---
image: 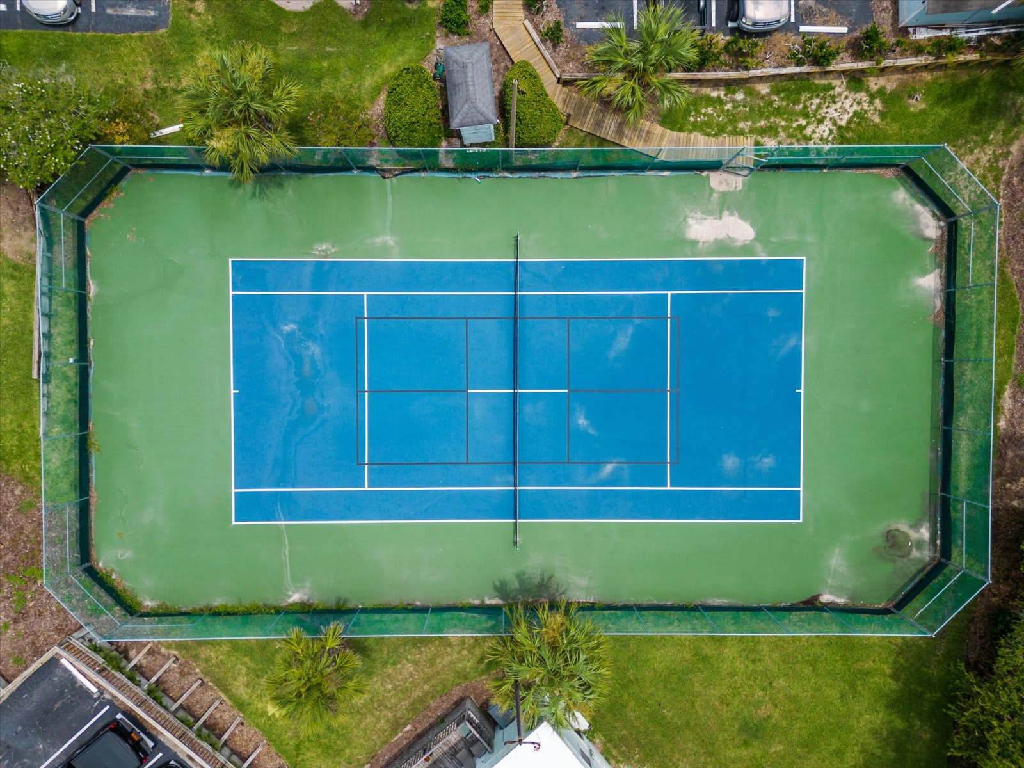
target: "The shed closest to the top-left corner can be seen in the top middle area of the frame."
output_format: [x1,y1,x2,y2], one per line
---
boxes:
[443,41,498,147]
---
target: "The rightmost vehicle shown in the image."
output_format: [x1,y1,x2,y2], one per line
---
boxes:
[738,0,793,34]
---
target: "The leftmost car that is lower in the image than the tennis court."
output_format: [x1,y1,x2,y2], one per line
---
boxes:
[69,720,150,768]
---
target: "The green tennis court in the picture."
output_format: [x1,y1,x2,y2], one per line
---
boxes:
[83,168,949,616]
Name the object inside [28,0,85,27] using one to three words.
car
